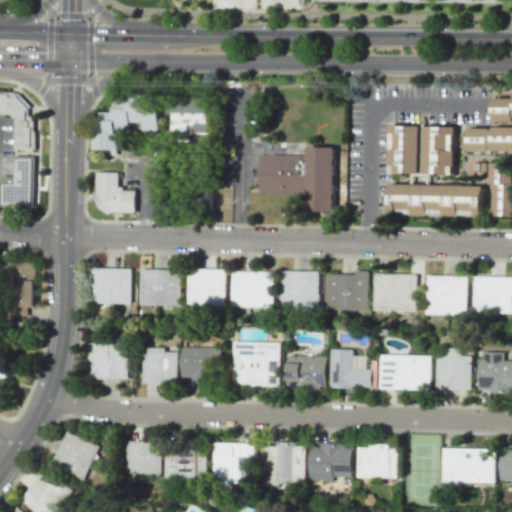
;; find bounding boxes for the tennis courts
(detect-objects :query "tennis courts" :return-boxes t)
[407,434,442,508]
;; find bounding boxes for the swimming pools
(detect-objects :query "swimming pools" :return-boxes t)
[386,338,410,354]
[294,330,326,353]
[184,504,205,512]
[240,328,268,341]
[337,330,371,350]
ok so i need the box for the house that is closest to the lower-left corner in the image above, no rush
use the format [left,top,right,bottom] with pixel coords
[24,478,68,512]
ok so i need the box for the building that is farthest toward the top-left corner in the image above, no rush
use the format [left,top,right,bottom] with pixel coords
[0,92,34,152]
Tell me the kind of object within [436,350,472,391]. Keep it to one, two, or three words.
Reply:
house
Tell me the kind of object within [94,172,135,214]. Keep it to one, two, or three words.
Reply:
building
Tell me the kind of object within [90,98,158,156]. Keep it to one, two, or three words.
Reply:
building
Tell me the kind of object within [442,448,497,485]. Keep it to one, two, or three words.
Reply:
house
